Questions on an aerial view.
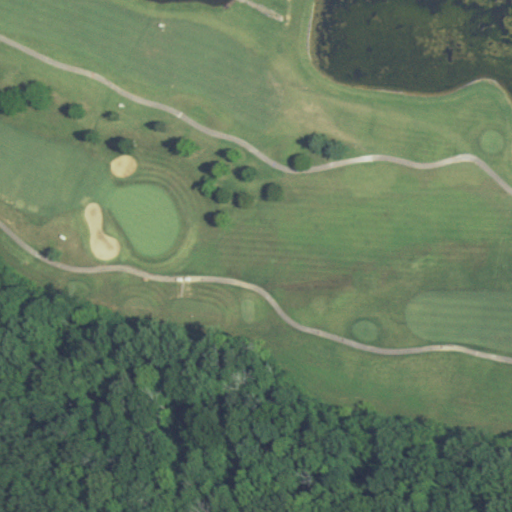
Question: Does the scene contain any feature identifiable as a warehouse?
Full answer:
No, there is no warehouse in the image.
